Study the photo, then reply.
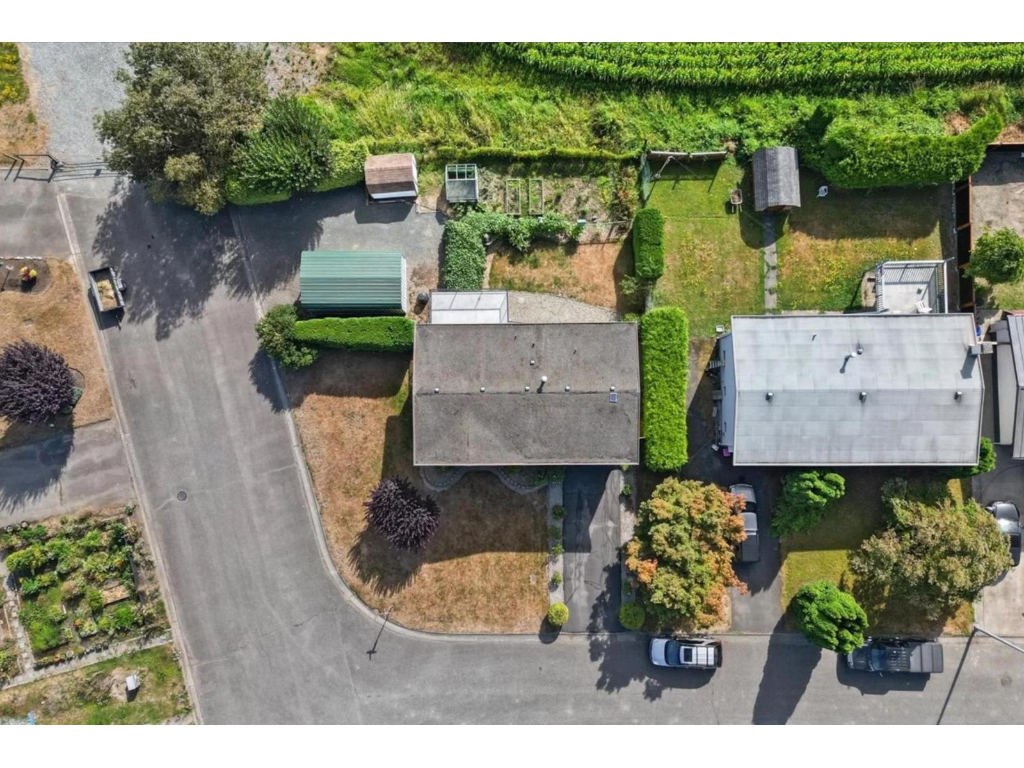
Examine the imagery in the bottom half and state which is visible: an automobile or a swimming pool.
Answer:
automobile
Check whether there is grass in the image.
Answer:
Yes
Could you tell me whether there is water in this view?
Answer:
No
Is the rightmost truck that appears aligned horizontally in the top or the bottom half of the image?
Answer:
bottom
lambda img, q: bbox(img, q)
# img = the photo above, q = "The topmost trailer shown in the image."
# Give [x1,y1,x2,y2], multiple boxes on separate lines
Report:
[89,266,129,328]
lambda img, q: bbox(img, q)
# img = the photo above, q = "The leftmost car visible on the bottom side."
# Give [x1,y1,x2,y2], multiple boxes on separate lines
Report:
[648,635,722,670]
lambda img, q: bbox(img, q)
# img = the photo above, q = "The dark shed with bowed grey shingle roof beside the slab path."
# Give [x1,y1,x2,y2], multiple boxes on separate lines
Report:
[746,146,796,215]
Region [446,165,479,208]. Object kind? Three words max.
greenhouse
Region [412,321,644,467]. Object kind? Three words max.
house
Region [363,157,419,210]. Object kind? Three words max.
shed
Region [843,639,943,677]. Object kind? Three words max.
truck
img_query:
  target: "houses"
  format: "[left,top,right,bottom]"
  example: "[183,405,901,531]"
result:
[719,312,987,467]
[992,306,1024,459]
[412,321,644,467]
